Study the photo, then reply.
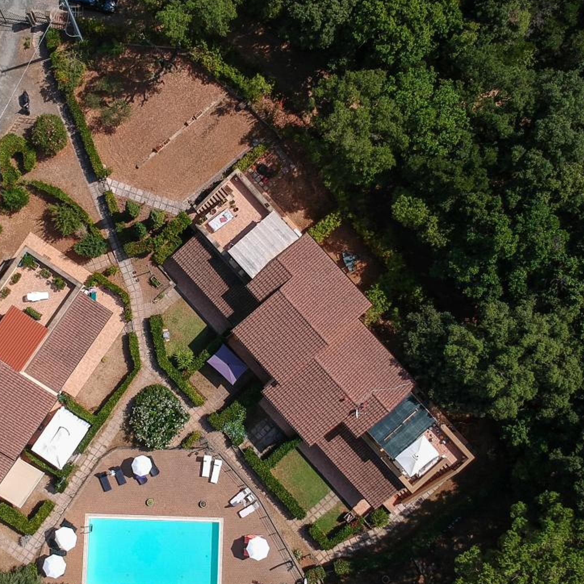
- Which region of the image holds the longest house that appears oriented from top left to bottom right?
center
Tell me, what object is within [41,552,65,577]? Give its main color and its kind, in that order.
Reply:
white umbrella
